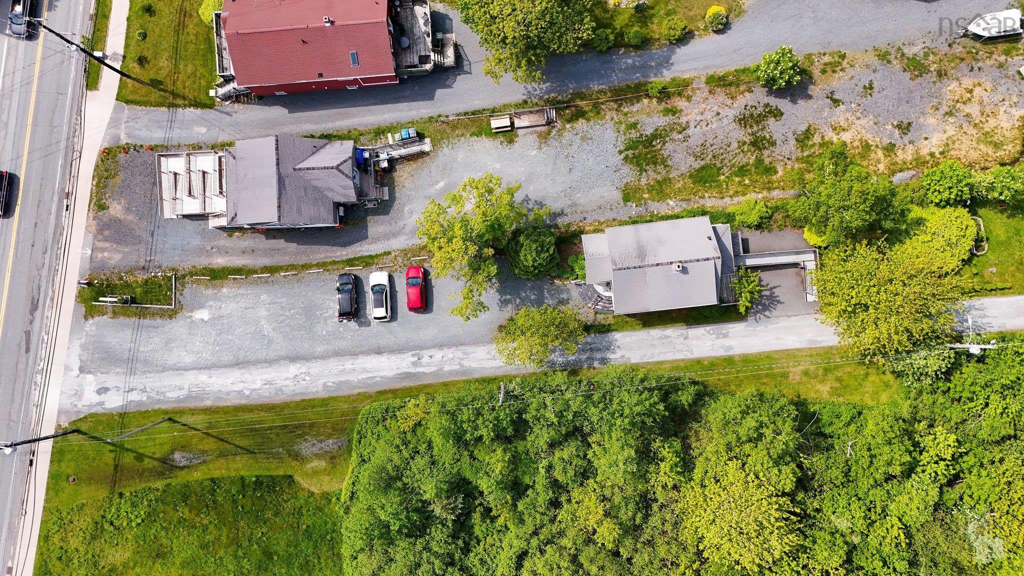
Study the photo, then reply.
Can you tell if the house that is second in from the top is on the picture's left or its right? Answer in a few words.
left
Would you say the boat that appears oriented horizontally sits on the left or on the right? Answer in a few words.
right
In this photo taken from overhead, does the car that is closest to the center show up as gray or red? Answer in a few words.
red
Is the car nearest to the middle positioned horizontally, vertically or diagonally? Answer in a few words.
vertically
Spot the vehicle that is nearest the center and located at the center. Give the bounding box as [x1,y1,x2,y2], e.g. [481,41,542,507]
[404,266,427,312]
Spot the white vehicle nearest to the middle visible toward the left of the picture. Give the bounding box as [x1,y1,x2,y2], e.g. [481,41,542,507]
[368,270,392,321]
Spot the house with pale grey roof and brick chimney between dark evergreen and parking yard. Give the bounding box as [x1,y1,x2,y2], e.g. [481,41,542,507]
[581,216,744,315]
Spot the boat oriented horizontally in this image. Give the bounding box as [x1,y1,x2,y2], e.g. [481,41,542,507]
[963,13,1024,39]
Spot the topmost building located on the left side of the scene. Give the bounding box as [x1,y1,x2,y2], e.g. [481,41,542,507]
[220,0,402,97]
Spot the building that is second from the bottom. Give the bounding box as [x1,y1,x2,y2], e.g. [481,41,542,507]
[224,136,362,228]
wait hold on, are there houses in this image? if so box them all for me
[220,0,402,97]
[224,136,362,228]
[581,216,744,315]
